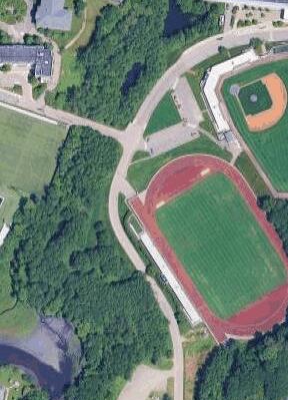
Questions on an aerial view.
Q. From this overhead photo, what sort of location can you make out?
sports ground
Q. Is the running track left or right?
right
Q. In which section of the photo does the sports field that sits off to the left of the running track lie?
left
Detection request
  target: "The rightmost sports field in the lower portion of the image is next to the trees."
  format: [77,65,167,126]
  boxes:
[155,174,288,321]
